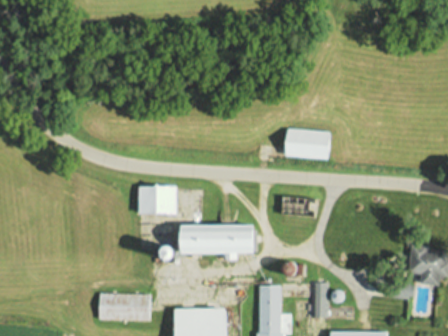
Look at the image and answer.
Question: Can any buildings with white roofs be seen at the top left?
No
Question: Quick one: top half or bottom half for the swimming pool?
bottom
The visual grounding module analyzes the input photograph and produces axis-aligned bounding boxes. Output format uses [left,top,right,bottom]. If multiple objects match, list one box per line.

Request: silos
[158,245,175,262]
[332,290,346,304]
[284,262,308,277]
